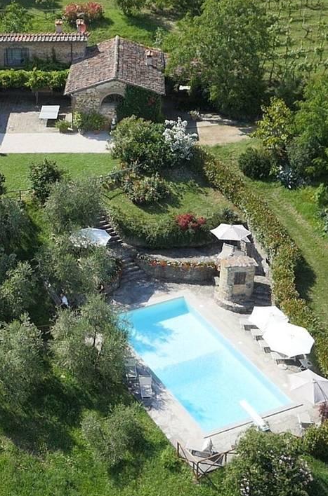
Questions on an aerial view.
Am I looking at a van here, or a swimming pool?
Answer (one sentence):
I can see a swimming pool in this picture.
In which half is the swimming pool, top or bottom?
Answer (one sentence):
The bottom half of the photo is where the swimming pool is.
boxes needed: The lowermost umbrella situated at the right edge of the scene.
[293,368,328,411]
